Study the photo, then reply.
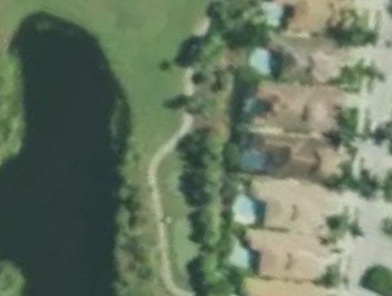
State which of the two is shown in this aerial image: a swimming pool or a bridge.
swimming pool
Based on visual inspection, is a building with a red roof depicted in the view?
No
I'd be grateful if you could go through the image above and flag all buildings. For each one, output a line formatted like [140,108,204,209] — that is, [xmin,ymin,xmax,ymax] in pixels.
[244,278,334,296]
[246,176,335,234]
[255,83,349,134]
[251,132,345,179]
[267,35,352,85]
[274,0,354,38]
[243,229,331,280]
